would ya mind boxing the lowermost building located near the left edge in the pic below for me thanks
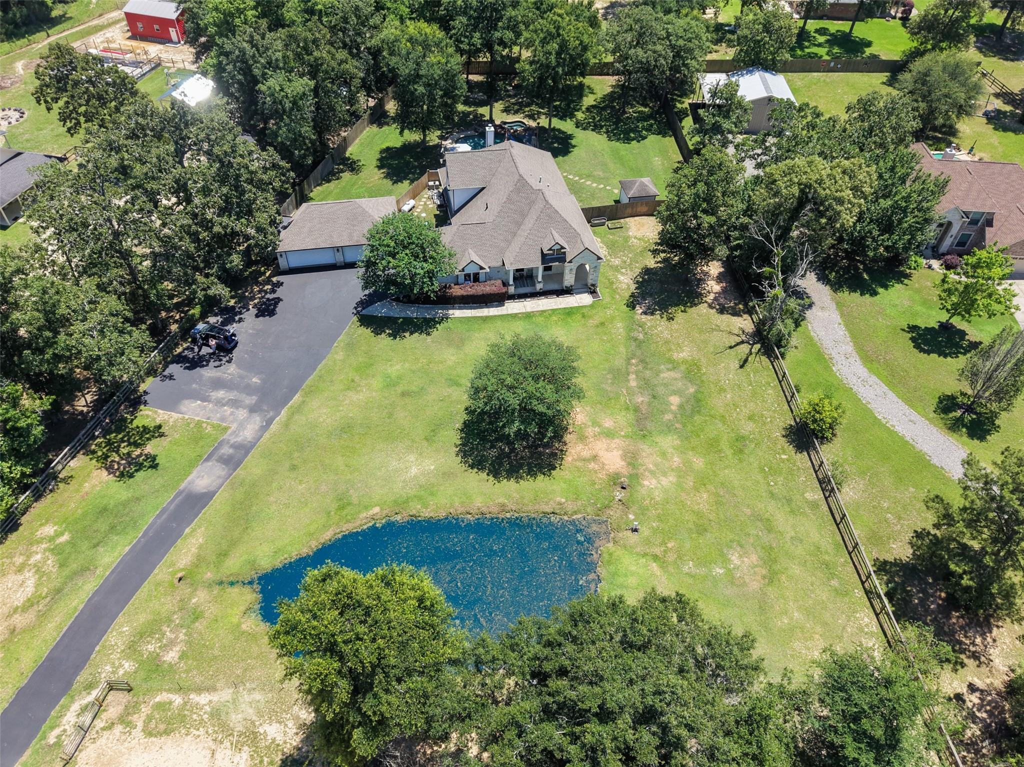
[0,168,50,238]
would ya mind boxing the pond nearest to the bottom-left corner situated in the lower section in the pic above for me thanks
[251,513,616,681]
